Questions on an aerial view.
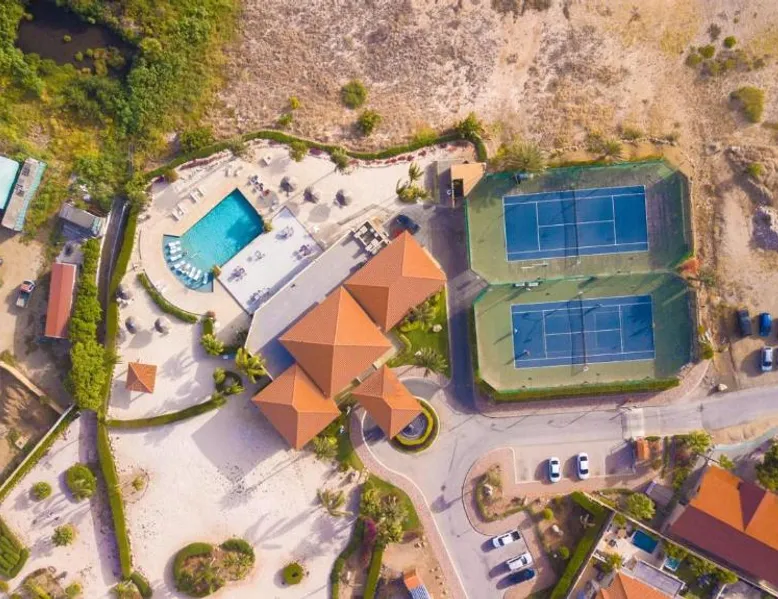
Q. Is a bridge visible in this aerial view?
No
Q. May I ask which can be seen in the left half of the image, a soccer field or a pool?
pool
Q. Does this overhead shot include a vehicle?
Yes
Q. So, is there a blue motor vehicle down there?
Yes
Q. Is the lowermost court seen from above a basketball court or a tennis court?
tennis court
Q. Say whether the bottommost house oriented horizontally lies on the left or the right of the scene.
right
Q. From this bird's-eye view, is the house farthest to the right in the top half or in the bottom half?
bottom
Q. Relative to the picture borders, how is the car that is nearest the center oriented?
on a diagonal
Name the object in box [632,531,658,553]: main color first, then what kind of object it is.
blue swimming pool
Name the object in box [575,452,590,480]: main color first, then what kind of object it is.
white car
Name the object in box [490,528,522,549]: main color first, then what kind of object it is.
white vehicle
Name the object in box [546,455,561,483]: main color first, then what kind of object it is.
white car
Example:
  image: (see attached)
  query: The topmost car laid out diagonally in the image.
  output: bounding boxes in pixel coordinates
[394,209,421,234]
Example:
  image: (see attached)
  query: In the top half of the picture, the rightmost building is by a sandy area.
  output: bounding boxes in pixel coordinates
[450,163,485,208]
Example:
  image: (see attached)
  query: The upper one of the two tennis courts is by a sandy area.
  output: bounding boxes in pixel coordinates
[467,161,688,284]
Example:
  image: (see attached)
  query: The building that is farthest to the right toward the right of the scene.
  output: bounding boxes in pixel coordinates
[665,464,778,580]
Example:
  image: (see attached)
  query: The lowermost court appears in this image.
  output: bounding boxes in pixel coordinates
[478,271,690,392]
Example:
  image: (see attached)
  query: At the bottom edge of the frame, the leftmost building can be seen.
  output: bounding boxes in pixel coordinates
[399,566,434,599]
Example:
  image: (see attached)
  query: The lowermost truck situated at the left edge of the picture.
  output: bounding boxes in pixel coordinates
[13,278,36,307]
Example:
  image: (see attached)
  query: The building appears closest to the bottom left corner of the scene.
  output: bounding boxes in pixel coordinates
[125,362,162,394]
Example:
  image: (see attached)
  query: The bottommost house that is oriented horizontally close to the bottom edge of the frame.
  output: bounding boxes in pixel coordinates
[587,554,685,599]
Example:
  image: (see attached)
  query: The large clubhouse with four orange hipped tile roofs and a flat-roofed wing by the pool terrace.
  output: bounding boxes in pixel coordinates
[245,218,446,450]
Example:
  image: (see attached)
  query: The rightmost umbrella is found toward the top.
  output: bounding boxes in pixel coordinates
[335,189,353,207]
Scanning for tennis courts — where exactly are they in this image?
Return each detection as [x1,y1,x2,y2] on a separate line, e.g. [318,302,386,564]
[478,271,690,392]
[467,161,688,284]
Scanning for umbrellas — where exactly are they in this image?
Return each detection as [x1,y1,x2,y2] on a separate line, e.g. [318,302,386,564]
[156,315,173,334]
[126,315,144,334]
[302,186,320,204]
[117,284,134,302]
[335,189,353,207]
[280,176,299,194]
